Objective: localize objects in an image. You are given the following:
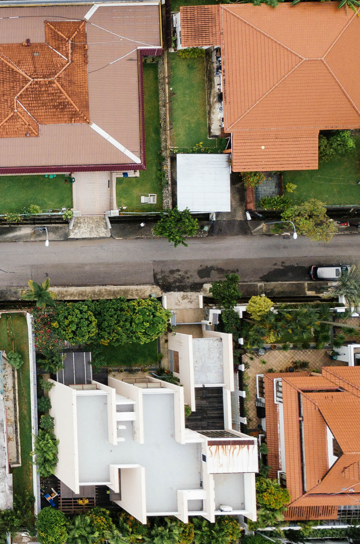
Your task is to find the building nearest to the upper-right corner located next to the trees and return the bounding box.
[169,1,360,172]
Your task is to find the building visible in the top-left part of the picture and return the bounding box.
[0,1,163,175]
